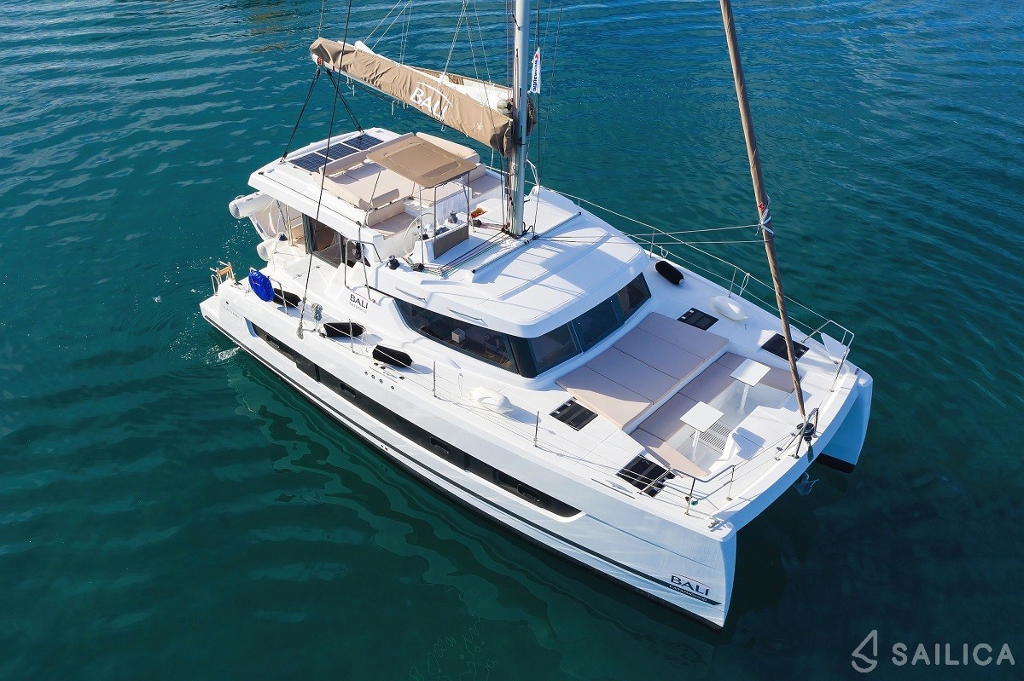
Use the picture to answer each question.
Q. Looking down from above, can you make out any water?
Yes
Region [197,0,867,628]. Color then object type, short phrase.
white boat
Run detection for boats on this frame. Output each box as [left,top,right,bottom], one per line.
[231,188,303,255]
[197,0,867,628]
